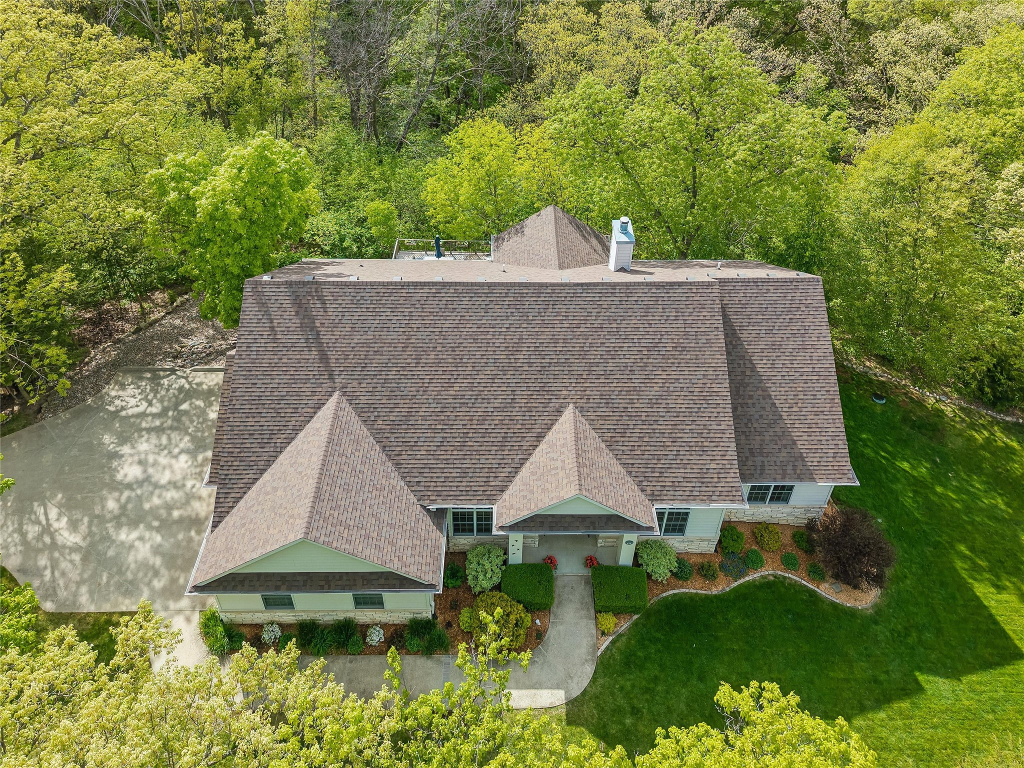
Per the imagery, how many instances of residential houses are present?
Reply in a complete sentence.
My tally gives 1 residential house in this photo.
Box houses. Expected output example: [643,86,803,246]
[188,204,857,637]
